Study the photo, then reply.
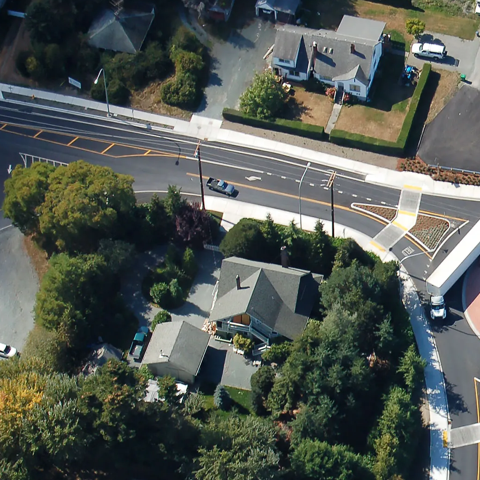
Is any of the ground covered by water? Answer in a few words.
No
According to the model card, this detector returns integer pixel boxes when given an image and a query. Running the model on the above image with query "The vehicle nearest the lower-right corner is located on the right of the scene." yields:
[428,285,449,322]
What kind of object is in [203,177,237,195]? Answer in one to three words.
vehicle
